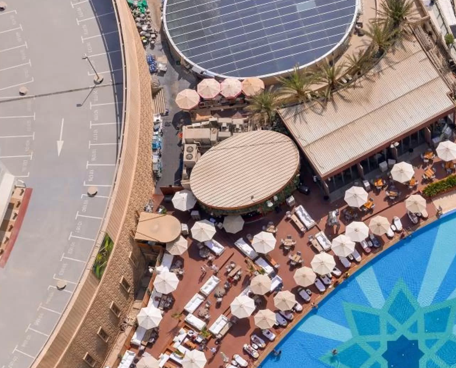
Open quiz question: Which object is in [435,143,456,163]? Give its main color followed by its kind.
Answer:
white umbrella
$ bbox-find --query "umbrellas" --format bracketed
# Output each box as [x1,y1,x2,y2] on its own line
[155,271,179,293]
[250,276,271,296]
[177,90,200,112]
[405,196,425,217]
[197,79,220,101]
[391,163,415,185]
[220,80,242,100]
[174,191,197,212]
[255,308,277,329]
[252,233,277,255]
[369,217,390,237]
[311,253,336,276]
[435,143,456,163]
[182,349,208,368]
[223,215,244,236]
[191,220,217,242]
[343,186,368,209]
[273,292,295,311]
[139,307,163,331]
[294,268,315,287]
[230,295,255,319]
[330,235,356,257]
[166,238,187,257]
[345,220,369,243]
[138,358,159,368]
